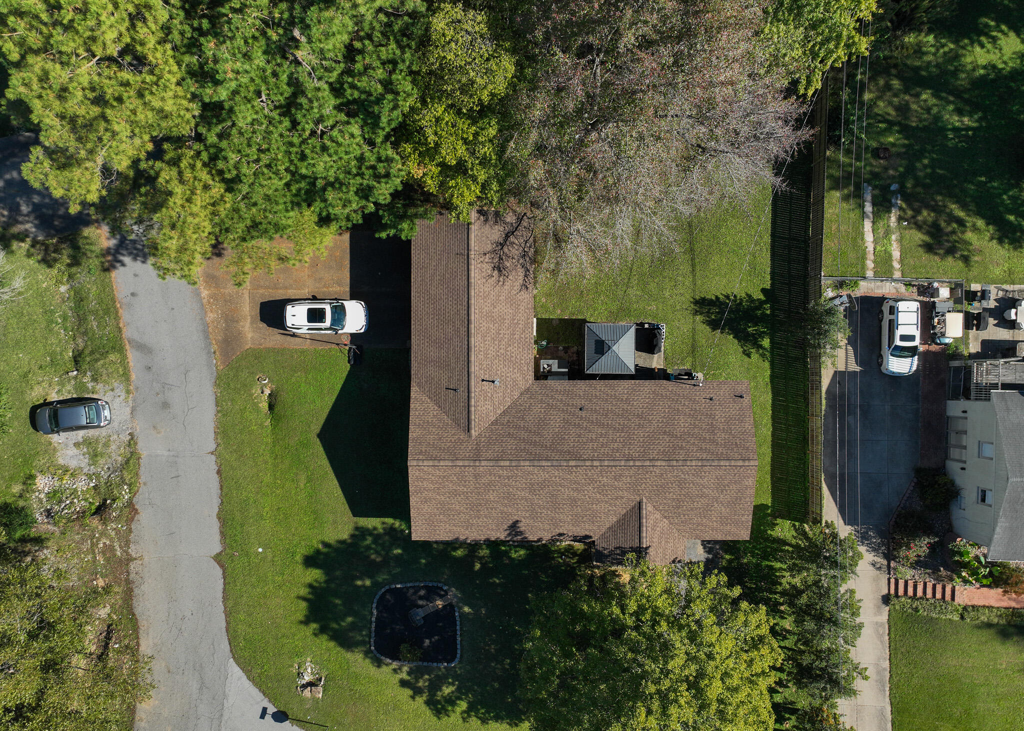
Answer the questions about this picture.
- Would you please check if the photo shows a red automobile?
No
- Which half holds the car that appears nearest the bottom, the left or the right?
left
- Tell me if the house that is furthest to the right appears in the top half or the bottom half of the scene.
bottom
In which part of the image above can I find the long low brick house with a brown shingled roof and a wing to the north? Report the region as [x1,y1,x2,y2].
[407,207,761,570]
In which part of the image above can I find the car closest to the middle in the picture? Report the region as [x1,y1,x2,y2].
[286,297,370,337]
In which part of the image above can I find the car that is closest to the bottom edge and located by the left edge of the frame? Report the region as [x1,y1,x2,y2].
[37,399,114,437]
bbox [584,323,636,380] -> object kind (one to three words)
gazebo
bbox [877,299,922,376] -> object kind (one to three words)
car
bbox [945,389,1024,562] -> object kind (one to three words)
house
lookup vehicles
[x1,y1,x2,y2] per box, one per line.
[877,299,922,376]
[37,399,114,437]
[927,301,964,346]
[286,297,370,337]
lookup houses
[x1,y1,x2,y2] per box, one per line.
[407,207,761,570]
[945,389,1024,562]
